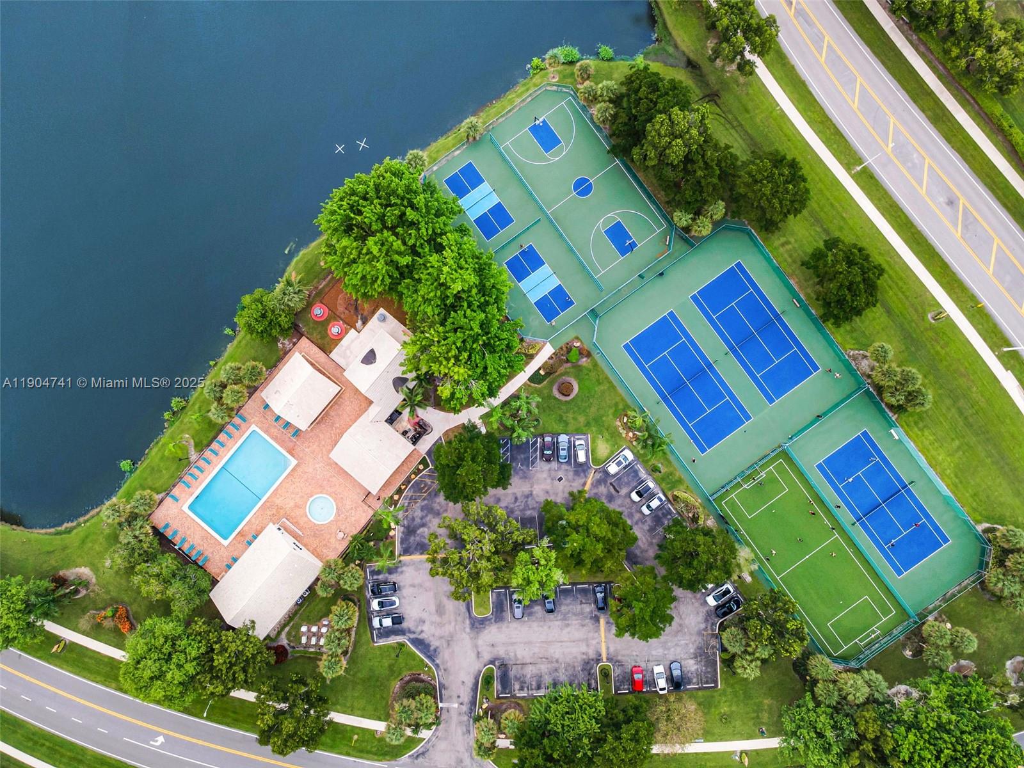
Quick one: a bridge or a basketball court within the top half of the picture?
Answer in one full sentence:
What appears within the top half of the picture is a basketball court.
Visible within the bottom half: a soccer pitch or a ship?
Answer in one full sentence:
You can see a soccer pitch within the bottom half.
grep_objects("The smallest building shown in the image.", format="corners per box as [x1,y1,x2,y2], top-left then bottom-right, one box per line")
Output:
[261,352,348,431]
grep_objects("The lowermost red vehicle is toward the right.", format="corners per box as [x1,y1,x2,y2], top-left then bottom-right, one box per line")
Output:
[631,664,644,691]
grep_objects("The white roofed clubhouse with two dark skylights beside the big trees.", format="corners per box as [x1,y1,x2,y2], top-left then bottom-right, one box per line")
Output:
[330,330,421,495]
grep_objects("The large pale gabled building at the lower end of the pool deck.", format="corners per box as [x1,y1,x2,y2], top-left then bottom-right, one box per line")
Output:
[210,522,323,640]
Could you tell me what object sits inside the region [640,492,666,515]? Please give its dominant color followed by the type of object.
white car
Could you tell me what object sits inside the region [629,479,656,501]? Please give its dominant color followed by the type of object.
white car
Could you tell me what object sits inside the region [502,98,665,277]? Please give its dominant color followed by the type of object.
green basketball court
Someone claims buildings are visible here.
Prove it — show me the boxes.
[330,330,421,495]
[210,522,323,640]
[261,352,348,431]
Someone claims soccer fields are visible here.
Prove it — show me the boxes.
[715,448,909,659]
